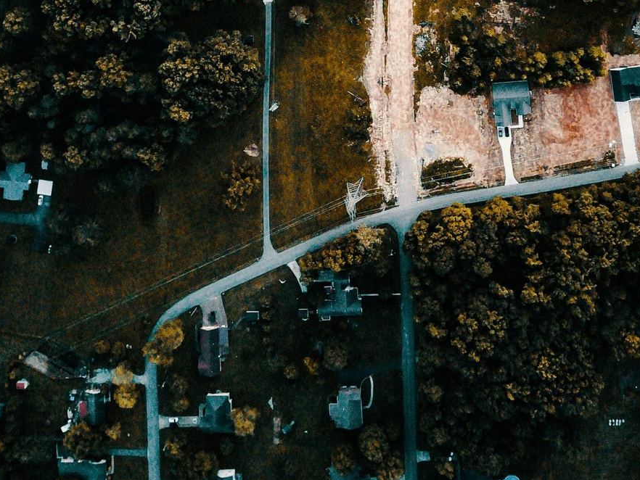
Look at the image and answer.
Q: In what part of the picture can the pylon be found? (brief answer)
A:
center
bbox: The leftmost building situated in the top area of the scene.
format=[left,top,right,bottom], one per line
[0,161,33,202]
